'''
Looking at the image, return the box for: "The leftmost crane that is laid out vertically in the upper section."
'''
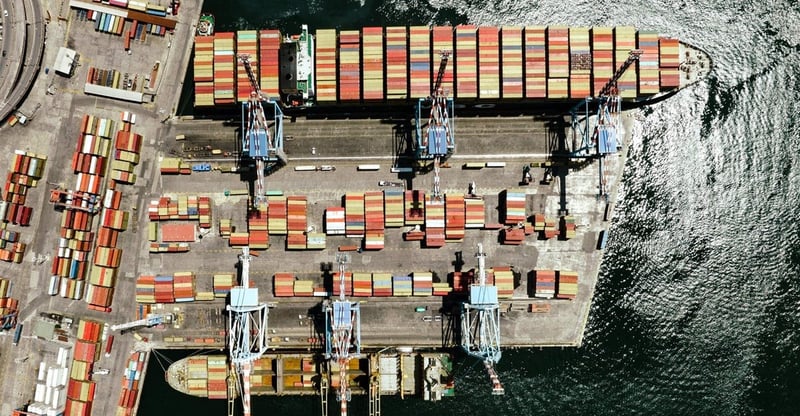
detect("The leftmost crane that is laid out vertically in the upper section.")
[231,47,292,201]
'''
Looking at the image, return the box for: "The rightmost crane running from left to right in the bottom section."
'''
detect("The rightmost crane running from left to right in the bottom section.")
[110,310,175,332]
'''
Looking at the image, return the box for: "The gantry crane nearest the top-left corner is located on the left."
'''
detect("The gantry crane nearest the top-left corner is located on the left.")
[48,192,108,216]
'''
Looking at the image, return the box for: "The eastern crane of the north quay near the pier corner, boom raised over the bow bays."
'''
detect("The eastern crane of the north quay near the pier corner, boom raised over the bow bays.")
[570,49,644,203]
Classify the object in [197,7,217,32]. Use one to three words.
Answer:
boat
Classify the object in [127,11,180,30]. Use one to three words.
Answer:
building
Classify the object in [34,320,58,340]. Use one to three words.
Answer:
shed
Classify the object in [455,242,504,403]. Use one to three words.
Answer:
container crane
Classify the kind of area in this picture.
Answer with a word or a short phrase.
port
